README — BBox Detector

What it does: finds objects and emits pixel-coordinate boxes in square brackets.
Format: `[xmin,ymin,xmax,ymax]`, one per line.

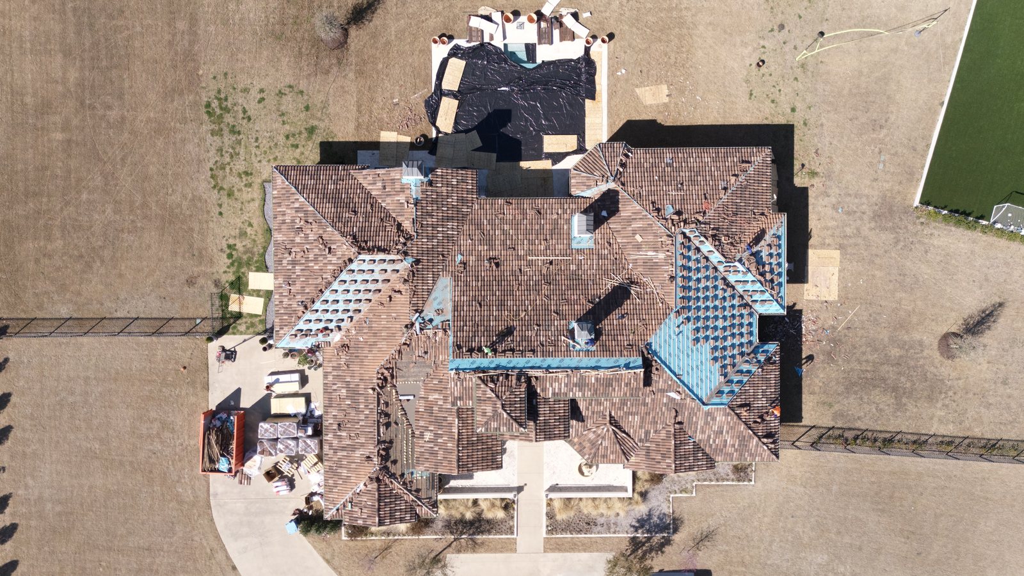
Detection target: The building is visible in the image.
[271,141,788,528]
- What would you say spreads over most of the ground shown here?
grass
